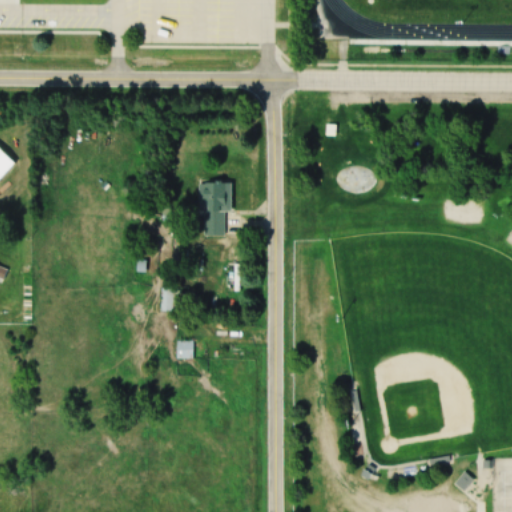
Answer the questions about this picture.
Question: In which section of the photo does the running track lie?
top right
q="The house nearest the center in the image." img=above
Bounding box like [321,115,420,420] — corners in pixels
[199,179,232,234]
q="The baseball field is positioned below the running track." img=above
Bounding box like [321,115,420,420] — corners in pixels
[334,232,512,465]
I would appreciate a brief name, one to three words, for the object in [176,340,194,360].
shed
